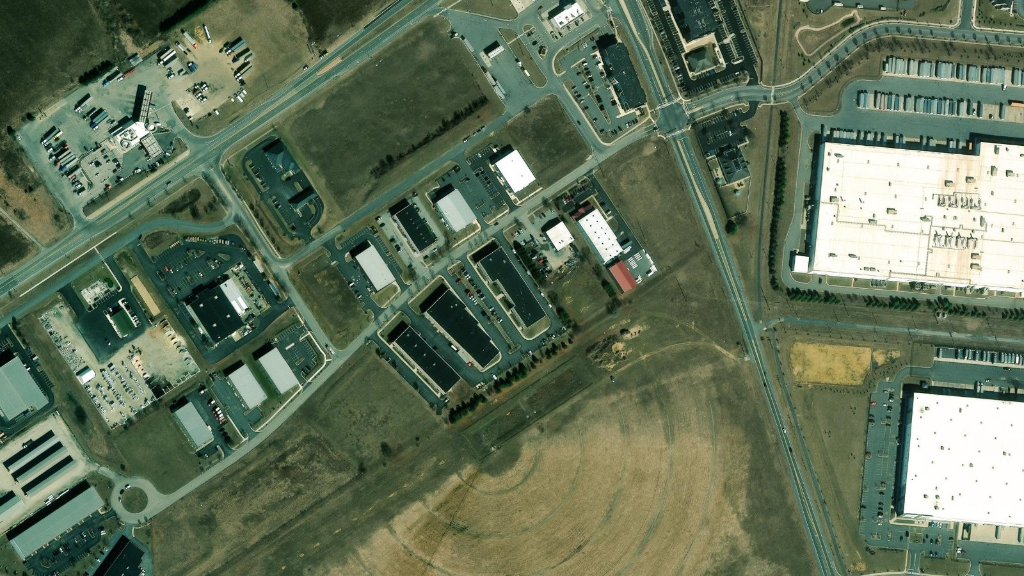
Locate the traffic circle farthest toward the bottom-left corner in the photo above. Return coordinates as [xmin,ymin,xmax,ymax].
[111,476,158,523]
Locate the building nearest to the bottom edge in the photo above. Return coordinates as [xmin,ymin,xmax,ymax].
[103,542,145,576]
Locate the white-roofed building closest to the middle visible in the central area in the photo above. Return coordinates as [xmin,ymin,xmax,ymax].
[544,221,574,252]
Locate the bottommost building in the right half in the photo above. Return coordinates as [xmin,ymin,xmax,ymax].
[899,392,1024,527]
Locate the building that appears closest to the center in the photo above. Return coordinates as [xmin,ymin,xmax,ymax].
[476,247,547,330]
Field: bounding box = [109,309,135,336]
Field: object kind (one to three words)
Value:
shed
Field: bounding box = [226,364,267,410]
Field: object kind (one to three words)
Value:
building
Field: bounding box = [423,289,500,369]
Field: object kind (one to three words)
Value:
building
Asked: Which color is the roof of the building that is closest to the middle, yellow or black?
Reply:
black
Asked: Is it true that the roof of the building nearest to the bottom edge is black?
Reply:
Yes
